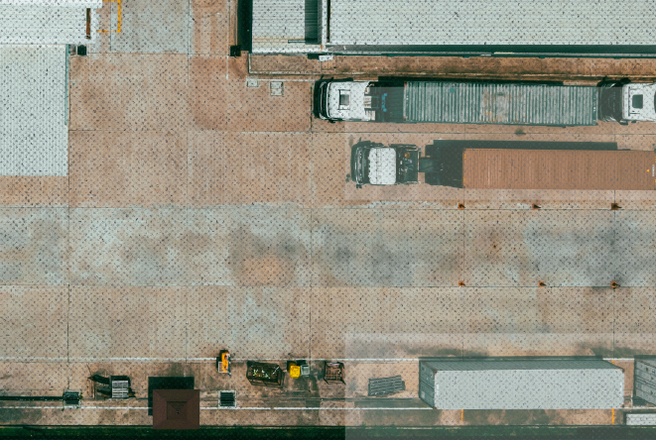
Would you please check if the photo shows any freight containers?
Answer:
Yes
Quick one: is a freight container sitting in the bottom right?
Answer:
Yes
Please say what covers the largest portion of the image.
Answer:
paved ground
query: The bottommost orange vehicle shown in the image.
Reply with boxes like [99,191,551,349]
[216,349,231,376]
